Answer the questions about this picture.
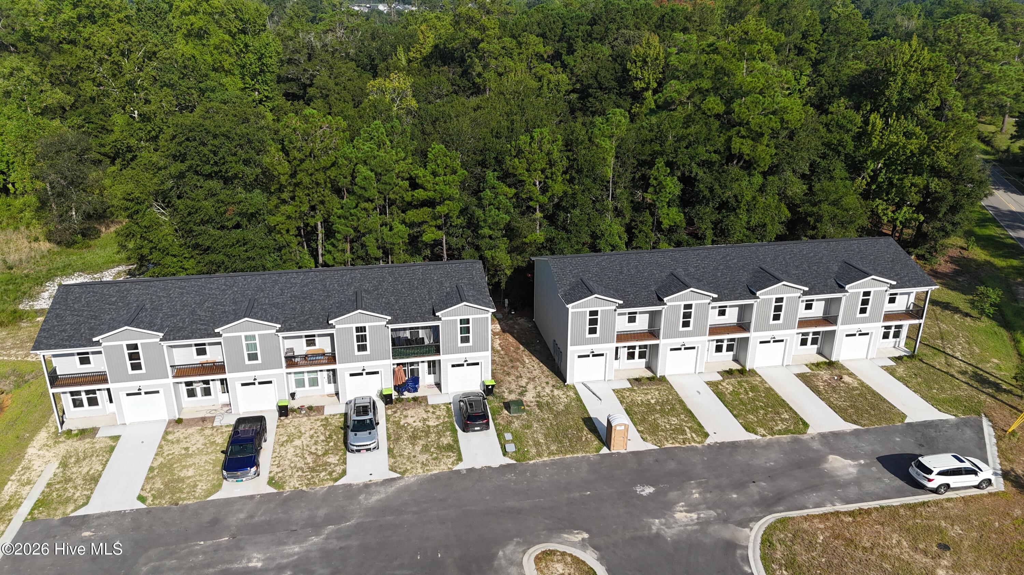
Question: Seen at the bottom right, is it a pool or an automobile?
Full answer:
The feature located at the bottom right is an automobile.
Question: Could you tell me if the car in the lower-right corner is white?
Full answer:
Yes, the car in the lower-right corner appears white.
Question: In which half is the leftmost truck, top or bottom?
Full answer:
Seen from above, the leftmost truck lies in the bottom half of the view.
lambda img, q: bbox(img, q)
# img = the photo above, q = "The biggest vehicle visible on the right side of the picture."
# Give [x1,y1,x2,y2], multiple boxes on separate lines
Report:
[908,453,997,494]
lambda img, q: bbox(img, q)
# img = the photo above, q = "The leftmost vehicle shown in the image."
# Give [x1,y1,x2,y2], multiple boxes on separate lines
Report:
[222,416,267,484]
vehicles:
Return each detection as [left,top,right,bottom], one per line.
[908,453,997,494]
[458,393,489,433]
[346,400,381,454]
[222,416,267,484]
